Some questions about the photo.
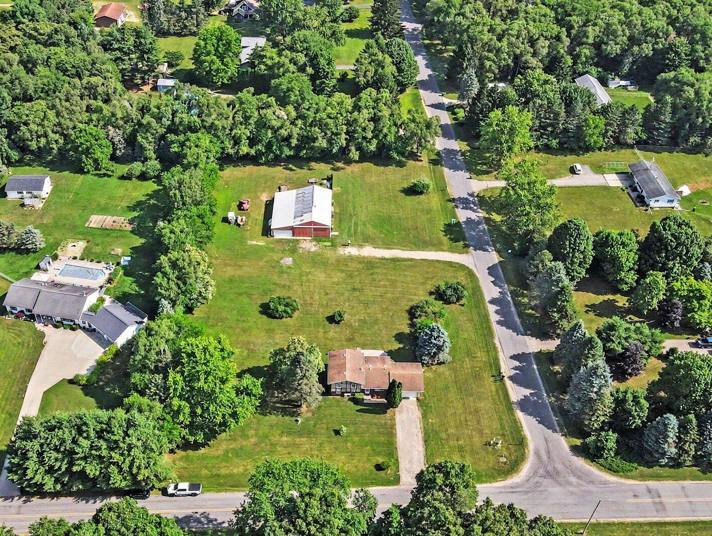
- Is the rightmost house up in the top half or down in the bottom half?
top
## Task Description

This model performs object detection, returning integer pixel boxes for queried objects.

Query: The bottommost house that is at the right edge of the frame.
[627,155,680,207]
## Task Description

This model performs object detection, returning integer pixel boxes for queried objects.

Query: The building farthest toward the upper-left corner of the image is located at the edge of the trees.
[98,2,131,27]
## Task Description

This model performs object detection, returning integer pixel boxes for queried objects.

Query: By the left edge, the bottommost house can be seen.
[1,278,146,344]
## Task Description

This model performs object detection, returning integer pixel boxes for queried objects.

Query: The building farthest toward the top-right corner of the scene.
[574,73,619,114]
